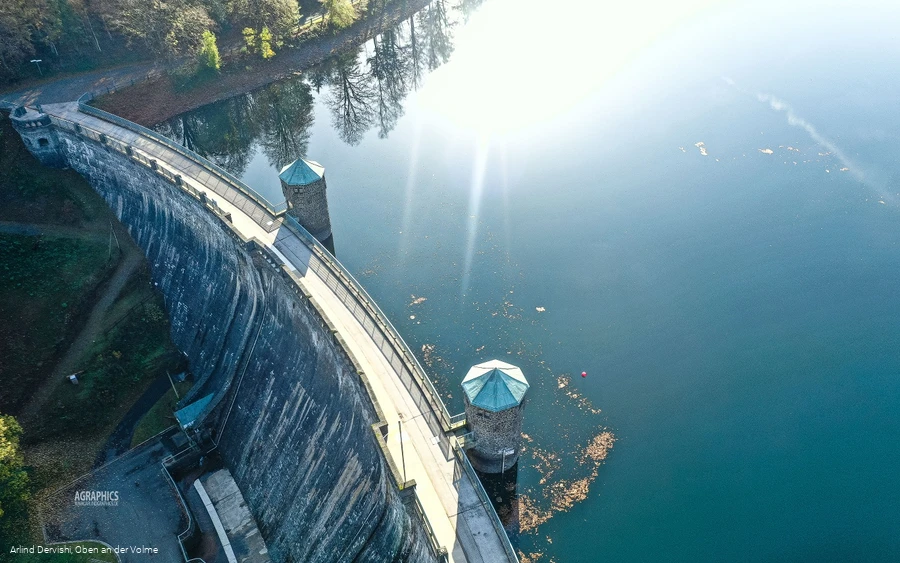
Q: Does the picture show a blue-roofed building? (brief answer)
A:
Yes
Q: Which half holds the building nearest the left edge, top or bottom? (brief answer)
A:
bottom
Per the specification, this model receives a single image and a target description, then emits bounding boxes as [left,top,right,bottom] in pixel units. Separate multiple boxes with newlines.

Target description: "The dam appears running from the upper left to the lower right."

[33,86,522,563]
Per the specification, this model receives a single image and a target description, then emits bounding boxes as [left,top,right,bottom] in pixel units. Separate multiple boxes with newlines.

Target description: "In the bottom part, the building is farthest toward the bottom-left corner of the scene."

[172,392,214,433]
